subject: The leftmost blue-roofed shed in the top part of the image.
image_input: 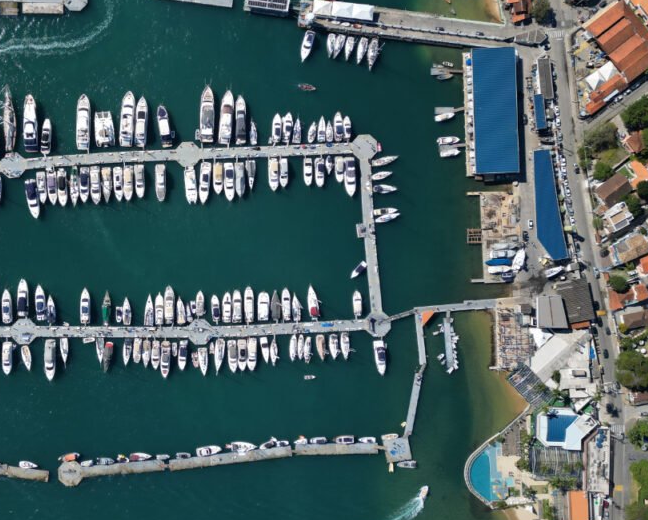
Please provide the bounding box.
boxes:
[464,43,520,173]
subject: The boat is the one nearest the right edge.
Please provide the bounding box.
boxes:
[546,264,566,278]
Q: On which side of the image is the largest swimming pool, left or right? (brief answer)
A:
right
